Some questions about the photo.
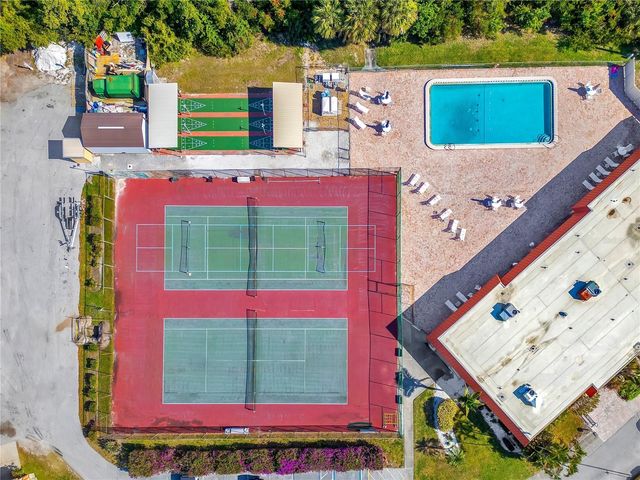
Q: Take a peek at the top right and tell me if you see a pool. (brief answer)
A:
Yes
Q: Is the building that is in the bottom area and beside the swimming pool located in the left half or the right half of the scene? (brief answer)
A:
right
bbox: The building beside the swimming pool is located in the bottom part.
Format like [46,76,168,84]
[427,148,640,445]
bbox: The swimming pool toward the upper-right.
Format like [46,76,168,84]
[425,78,557,148]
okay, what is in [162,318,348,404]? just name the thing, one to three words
tennis court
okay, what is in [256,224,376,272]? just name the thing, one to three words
sports court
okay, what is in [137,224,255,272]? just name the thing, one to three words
sports court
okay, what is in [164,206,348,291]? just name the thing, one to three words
tennis court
